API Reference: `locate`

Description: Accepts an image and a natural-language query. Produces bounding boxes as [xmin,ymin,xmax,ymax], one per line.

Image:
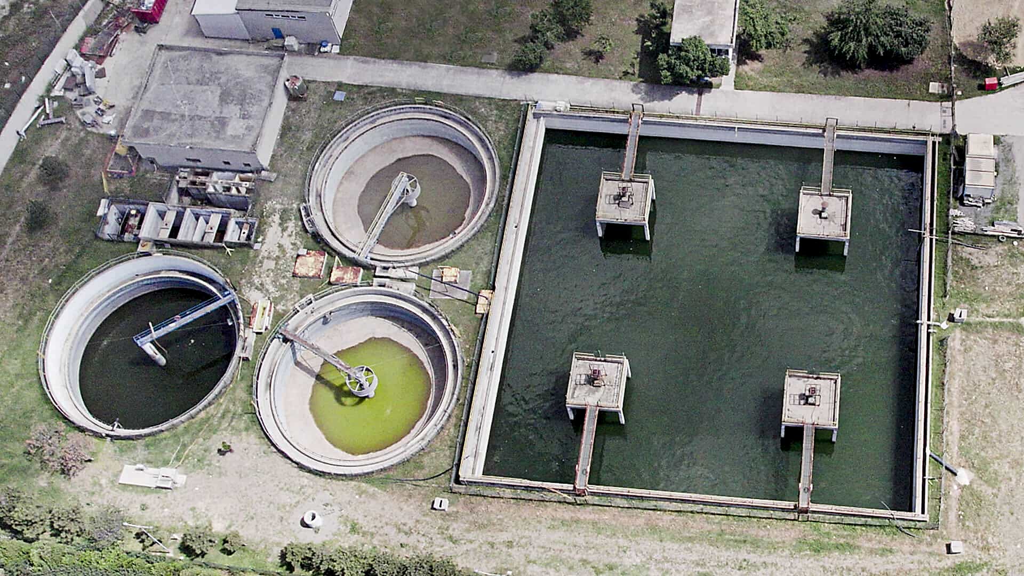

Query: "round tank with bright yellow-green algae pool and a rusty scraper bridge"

[253,280,464,480]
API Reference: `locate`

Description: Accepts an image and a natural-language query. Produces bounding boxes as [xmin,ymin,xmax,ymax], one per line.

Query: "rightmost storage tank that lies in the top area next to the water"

[308,95,501,270]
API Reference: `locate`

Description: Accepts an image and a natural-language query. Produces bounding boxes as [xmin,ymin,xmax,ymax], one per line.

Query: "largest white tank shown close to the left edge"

[39,251,251,447]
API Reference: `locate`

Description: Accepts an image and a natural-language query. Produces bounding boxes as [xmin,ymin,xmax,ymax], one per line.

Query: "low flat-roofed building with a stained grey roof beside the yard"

[124,45,293,172]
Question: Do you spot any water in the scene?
Yes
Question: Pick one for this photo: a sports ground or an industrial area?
industrial area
